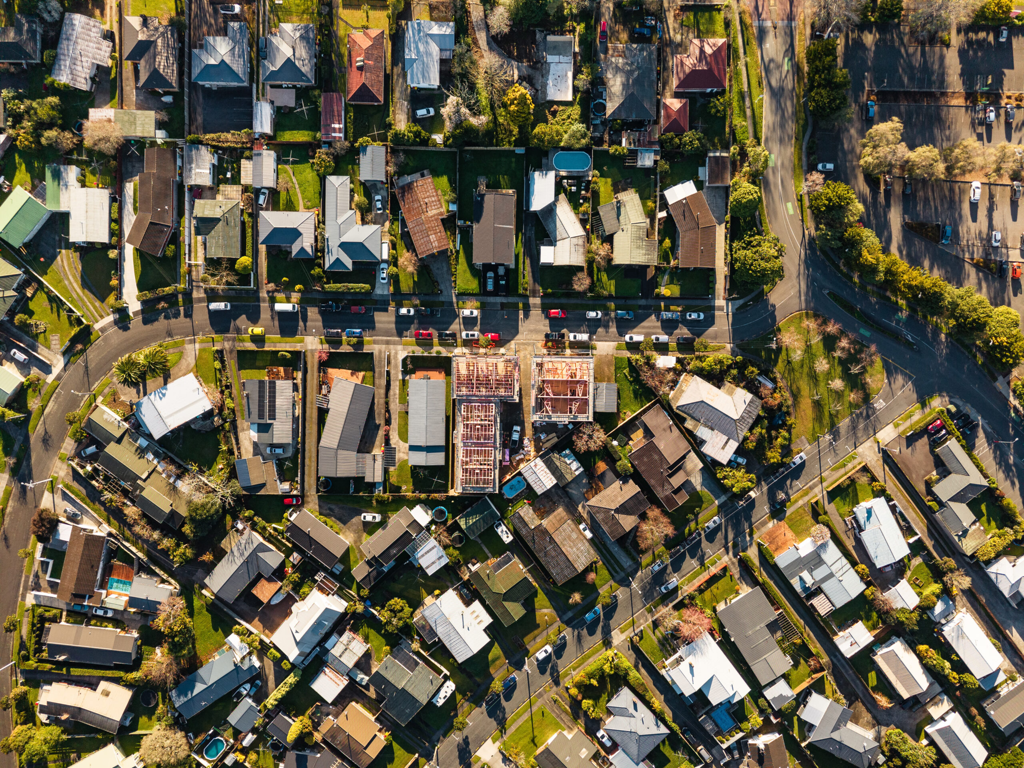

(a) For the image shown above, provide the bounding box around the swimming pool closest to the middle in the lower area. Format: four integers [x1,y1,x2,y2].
[502,476,526,497]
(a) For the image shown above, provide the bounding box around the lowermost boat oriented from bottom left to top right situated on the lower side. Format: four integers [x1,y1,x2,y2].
[232,682,250,704]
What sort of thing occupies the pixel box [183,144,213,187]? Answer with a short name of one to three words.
shed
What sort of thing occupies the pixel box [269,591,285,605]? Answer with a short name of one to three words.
boat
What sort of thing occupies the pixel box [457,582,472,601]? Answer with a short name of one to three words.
car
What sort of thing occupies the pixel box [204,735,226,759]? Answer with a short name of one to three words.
swimming pool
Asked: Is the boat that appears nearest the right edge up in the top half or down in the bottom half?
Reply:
bottom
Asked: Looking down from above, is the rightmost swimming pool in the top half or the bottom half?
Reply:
bottom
